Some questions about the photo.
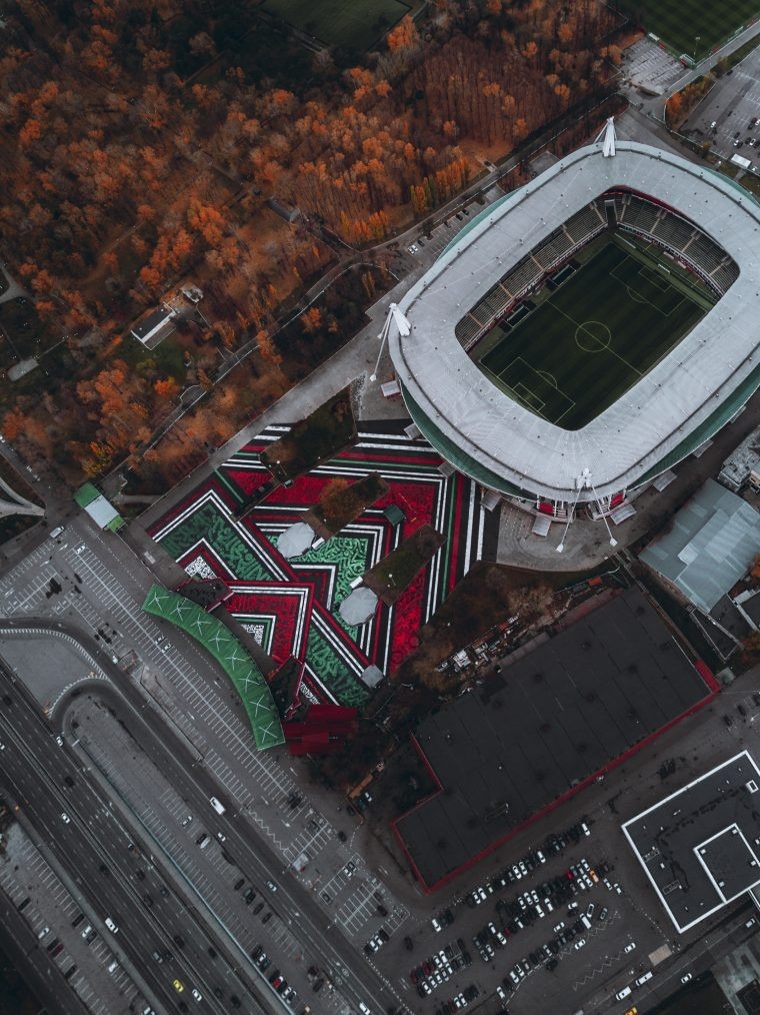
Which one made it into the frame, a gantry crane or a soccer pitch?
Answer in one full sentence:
This aerial view contains a soccer pitch.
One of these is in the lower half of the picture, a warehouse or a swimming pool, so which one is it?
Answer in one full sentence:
The one visible in the lower half of the picture is a warehouse.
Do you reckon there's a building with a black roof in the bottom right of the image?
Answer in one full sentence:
Yes, a building with a black roof can be seen in the bottom right of the image.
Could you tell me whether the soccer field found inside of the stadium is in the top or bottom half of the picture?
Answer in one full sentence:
You can find the soccer field found inside of the stadium in the top half.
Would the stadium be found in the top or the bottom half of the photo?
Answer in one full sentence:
You can find the stadium in the top half.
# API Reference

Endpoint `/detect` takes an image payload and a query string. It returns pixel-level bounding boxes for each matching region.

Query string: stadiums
[368,111,760,553]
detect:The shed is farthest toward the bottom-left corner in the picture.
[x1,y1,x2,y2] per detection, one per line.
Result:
[118,650,143,675]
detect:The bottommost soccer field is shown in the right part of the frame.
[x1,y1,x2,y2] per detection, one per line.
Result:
[476,238,713,430]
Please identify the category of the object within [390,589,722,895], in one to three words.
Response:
warehouse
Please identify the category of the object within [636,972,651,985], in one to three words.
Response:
vehicle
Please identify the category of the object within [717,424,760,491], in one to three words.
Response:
building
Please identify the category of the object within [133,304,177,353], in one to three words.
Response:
house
